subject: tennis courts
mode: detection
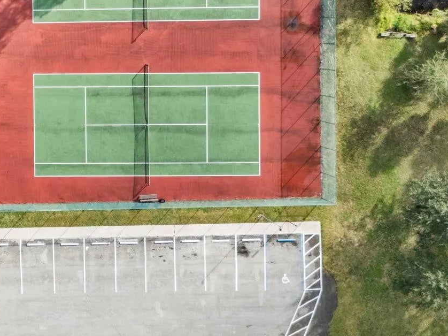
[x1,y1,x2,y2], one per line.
[33,73,261,178]
[32,0,261,22]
